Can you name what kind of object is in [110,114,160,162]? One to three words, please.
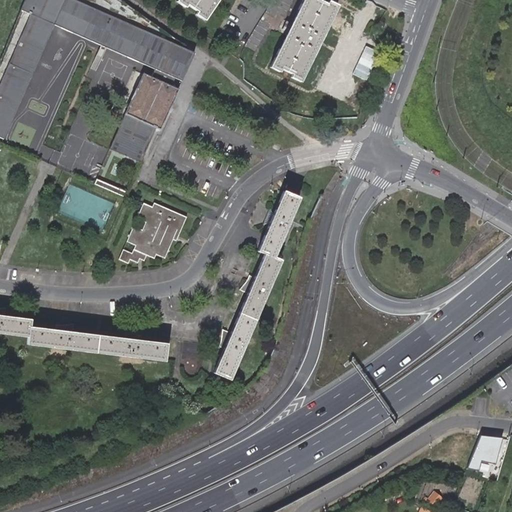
building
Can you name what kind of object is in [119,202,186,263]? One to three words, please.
building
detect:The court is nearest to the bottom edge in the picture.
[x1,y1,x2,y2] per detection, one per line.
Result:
[58,184,116,232]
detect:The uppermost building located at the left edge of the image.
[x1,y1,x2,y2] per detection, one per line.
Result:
[0,0,196,141]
